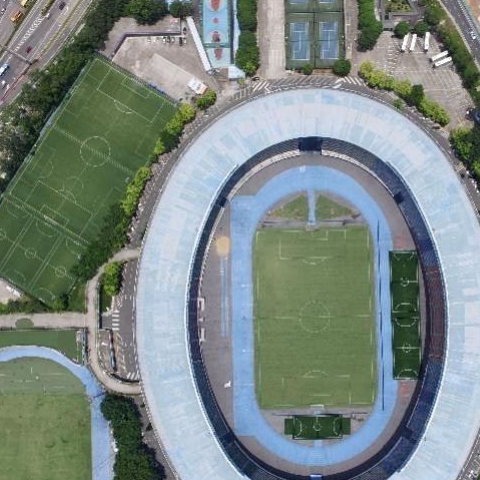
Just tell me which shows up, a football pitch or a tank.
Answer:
football pitch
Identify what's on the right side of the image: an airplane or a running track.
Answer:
running track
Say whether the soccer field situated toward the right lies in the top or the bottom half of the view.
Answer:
bottom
